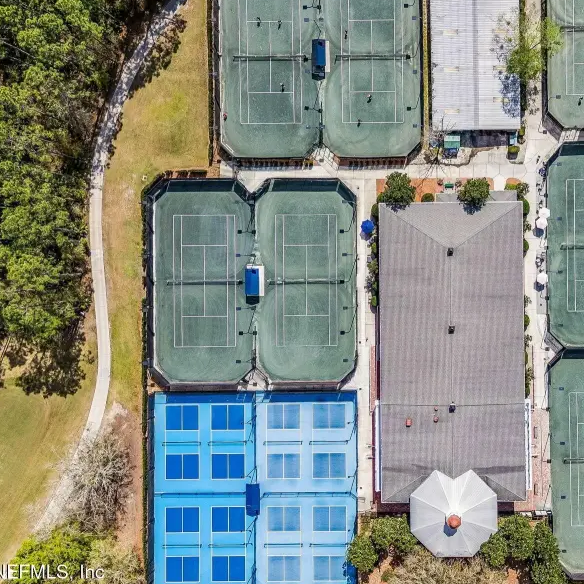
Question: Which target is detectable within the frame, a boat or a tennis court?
tennis court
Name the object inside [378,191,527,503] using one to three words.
building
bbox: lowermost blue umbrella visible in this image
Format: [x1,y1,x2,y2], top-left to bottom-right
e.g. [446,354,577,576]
[361,220,375,234]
